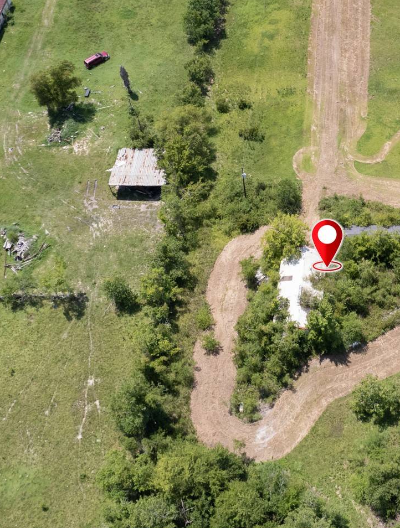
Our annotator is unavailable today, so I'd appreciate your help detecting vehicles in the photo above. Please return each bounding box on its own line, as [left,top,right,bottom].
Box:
[83,53,110,70]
